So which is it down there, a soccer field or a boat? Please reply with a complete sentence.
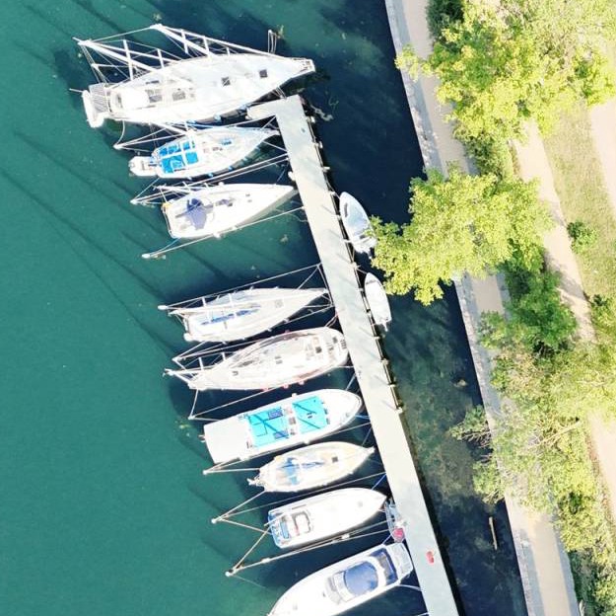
There is a boat in the scene.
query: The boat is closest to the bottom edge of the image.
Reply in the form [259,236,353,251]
[235,534,420,616]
